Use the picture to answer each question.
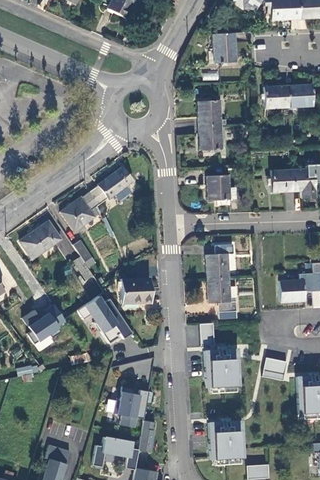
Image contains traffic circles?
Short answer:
Yes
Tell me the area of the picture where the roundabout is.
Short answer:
top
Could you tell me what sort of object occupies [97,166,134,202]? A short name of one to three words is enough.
house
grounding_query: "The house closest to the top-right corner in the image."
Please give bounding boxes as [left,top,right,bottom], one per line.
[264,0,320,24]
